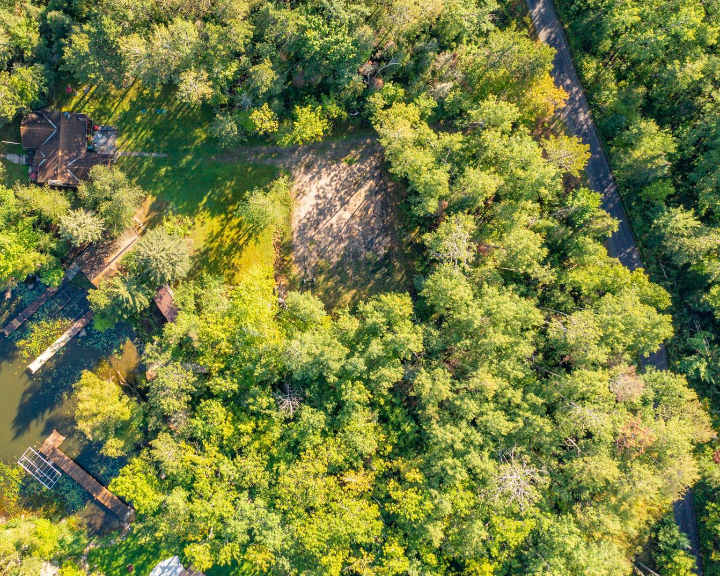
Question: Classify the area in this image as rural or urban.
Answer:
rural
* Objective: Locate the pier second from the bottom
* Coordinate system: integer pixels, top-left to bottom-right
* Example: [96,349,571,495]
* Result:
[26,311,95,374]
